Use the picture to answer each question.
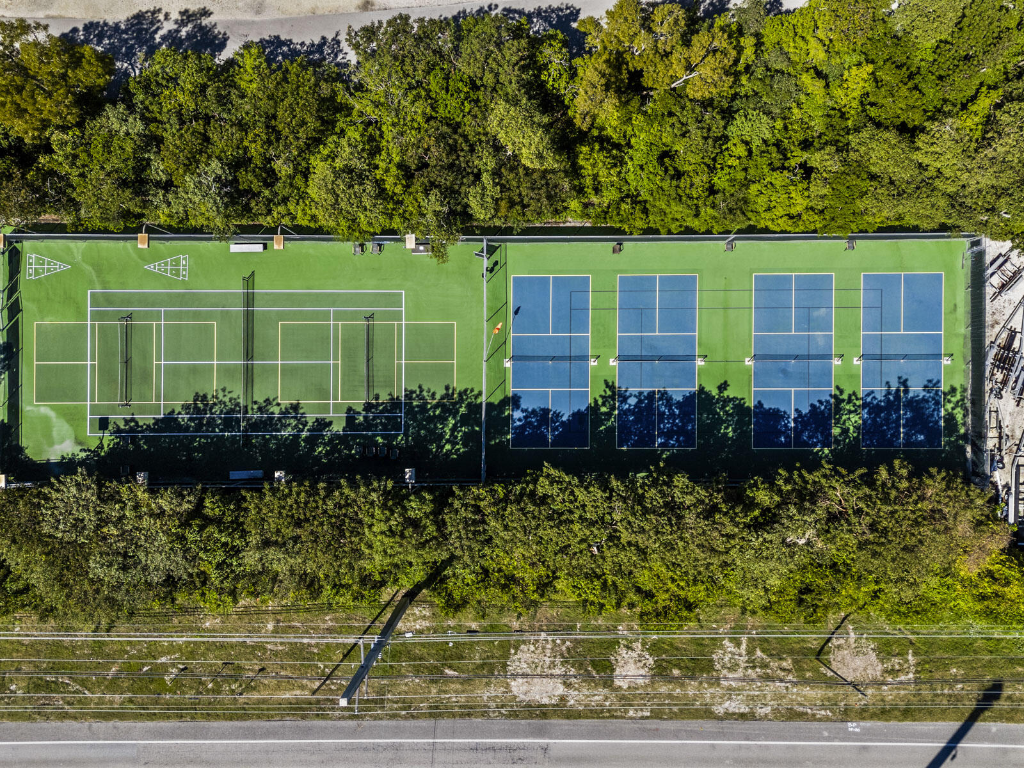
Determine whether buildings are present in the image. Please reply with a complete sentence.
No, the frame has no building in it.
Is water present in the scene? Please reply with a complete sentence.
No, no water is visible.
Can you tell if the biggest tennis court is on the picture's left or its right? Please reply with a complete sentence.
It is on the left.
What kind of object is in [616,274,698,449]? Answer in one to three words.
sports court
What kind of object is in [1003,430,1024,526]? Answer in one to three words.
trailer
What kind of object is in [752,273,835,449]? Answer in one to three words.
sports court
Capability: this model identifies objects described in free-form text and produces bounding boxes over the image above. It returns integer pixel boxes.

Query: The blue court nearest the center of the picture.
[511,275,591,448]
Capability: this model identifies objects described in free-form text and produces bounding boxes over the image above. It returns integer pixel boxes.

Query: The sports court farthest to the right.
[861,272,944,449]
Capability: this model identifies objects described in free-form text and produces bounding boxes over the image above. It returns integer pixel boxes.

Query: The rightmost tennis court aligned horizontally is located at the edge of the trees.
[569,289,882,436]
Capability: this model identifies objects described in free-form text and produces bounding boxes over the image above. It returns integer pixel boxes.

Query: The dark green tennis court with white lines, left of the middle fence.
[87,290,404,435]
